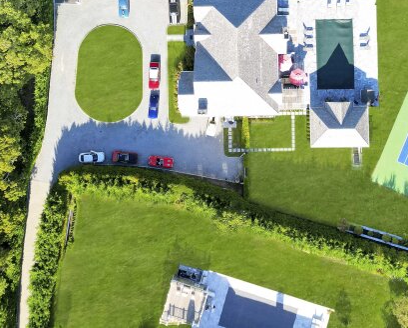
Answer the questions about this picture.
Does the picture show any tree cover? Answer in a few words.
Yes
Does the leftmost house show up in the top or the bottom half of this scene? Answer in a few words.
top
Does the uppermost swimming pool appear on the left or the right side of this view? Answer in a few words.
right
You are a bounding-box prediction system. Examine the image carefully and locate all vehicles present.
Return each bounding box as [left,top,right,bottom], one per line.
[168,0,179,25]
[147,157,175,169]
[117,0,128,19]
[147,91,159,119]
[110,151,139,164]
[77,149,105,164]
[147,61,159,90]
